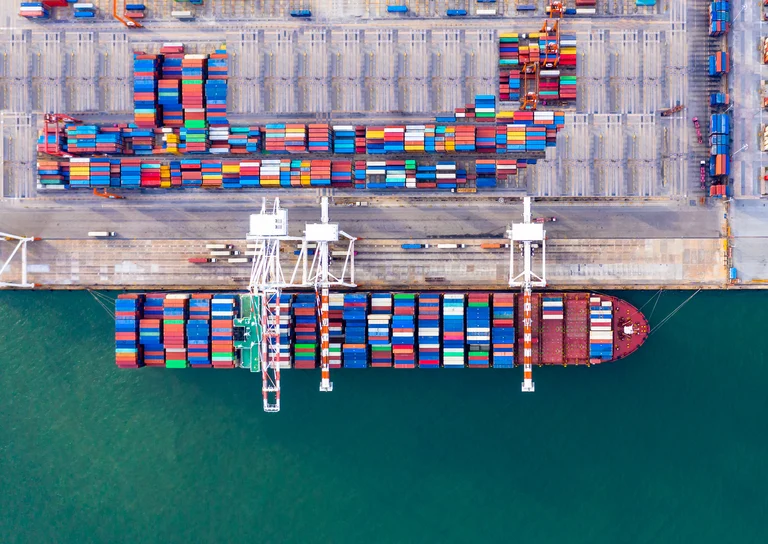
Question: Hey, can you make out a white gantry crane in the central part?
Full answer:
Yes, the scene does show a white gantry crane in the central part.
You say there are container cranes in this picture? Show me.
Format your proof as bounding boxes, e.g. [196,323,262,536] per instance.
[542,0,566,21]
[538,19,562,68]
[306,197,364,392]
[112,0,146,26]
[498,197,552,392]
[249,197,310,413]
[44,112,81,158]
[0,233,43,287]
[518,62,542,107]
